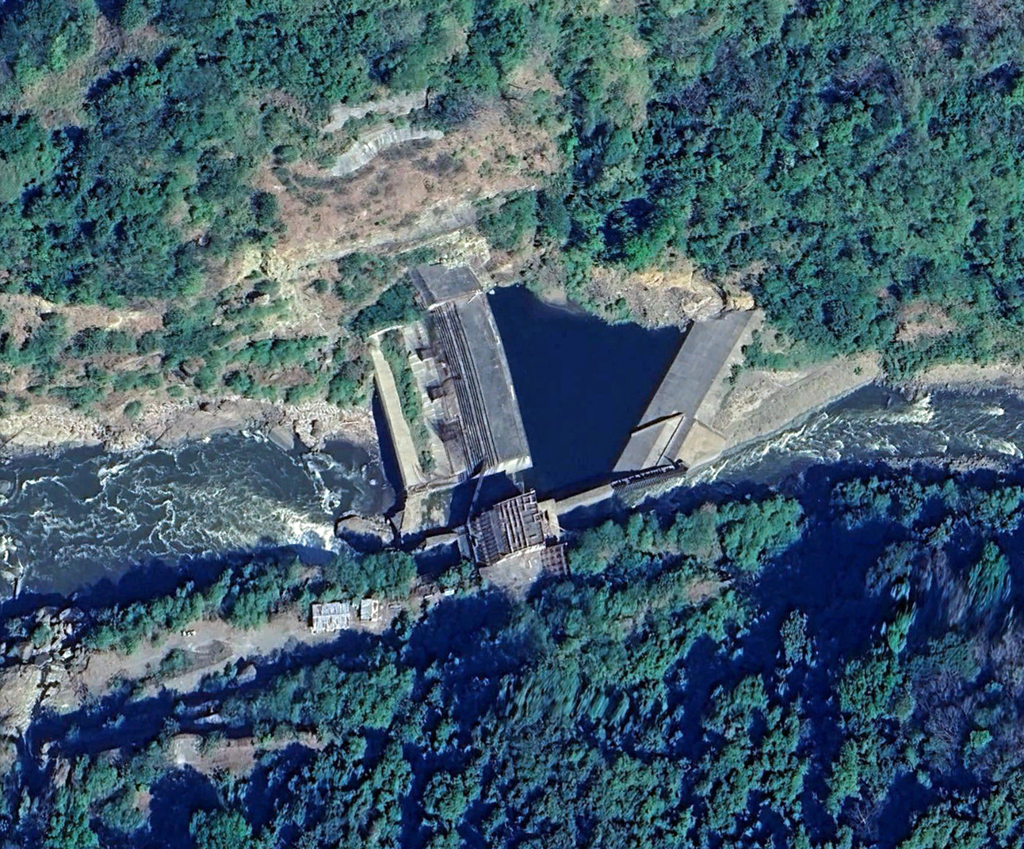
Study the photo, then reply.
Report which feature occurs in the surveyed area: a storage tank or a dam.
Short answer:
dam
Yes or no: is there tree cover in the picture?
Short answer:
Yes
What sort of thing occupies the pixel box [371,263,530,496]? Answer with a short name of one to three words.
dam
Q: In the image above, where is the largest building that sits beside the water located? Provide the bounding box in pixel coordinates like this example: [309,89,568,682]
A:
[468,490,565,569]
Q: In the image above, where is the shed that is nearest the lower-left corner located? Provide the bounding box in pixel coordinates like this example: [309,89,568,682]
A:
[312,603,350,631]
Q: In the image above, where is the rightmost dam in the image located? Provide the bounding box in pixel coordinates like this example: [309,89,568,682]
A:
[612,314,749,474]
